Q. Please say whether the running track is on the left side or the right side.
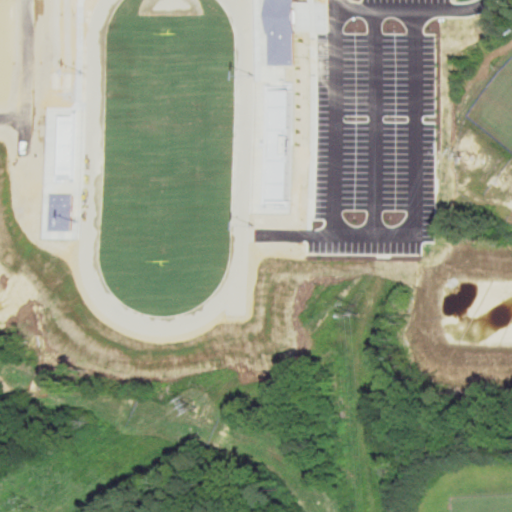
left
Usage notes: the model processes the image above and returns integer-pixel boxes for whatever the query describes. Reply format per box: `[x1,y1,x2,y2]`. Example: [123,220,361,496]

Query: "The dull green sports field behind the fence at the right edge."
[468,60,512,156]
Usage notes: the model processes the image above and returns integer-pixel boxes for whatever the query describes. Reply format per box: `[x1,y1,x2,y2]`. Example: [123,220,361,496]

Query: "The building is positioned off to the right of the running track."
[264,0,301,65]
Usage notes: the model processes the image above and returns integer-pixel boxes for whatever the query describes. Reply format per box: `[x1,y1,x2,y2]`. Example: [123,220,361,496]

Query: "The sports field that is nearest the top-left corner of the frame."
[102,0,236,316]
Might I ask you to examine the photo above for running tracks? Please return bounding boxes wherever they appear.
[80,0,258,338]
